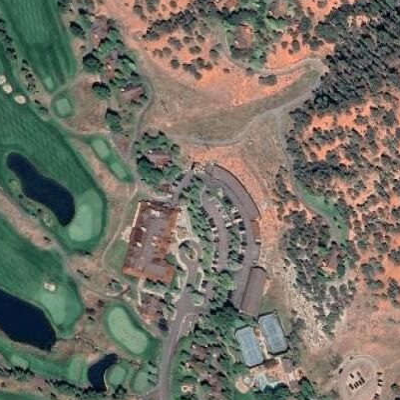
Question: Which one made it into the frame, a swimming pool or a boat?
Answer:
swimming pool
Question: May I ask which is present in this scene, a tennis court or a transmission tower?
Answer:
tennis court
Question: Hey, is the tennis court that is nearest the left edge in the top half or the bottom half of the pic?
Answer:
bottom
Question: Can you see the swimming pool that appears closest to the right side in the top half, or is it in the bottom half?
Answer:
bottom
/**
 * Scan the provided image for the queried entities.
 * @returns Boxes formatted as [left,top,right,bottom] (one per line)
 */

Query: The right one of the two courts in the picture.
[259,313,289,355]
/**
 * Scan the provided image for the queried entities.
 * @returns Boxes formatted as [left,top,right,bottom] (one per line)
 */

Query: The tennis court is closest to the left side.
[236,326,265,368]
